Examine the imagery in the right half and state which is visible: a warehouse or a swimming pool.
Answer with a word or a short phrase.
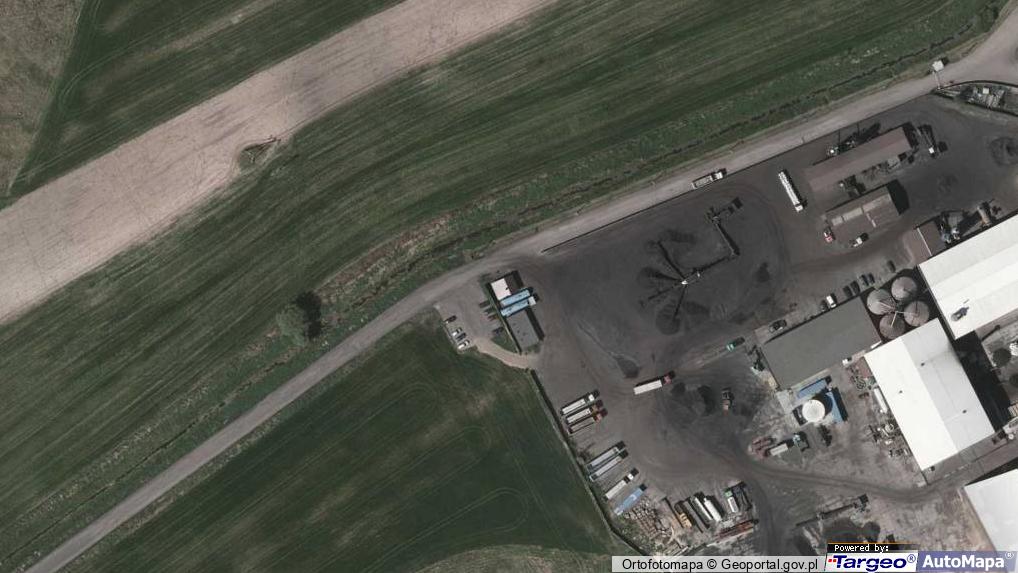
warehouse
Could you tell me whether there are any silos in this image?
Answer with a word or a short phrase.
Yes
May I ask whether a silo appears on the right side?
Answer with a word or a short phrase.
Yes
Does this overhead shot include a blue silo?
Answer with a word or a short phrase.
No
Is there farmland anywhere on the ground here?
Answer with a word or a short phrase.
Yes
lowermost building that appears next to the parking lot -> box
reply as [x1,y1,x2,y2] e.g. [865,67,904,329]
[508,311,539,350]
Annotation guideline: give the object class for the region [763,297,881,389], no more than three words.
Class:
building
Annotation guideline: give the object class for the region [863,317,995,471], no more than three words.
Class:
warehouse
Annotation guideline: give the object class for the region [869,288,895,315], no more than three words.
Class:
silo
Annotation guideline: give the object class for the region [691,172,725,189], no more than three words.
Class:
vehicle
